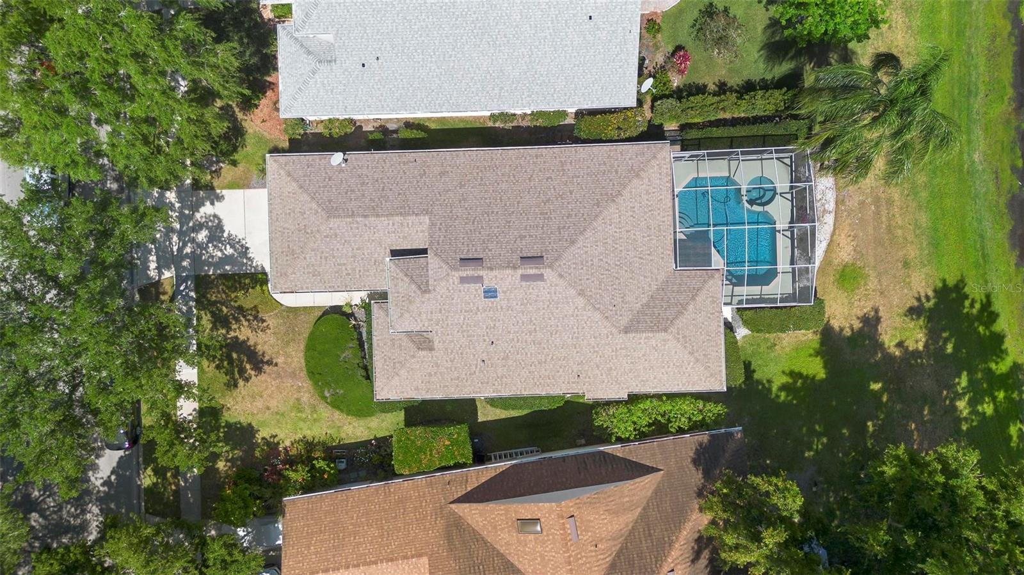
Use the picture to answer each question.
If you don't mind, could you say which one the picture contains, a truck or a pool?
pool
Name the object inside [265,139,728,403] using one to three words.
house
